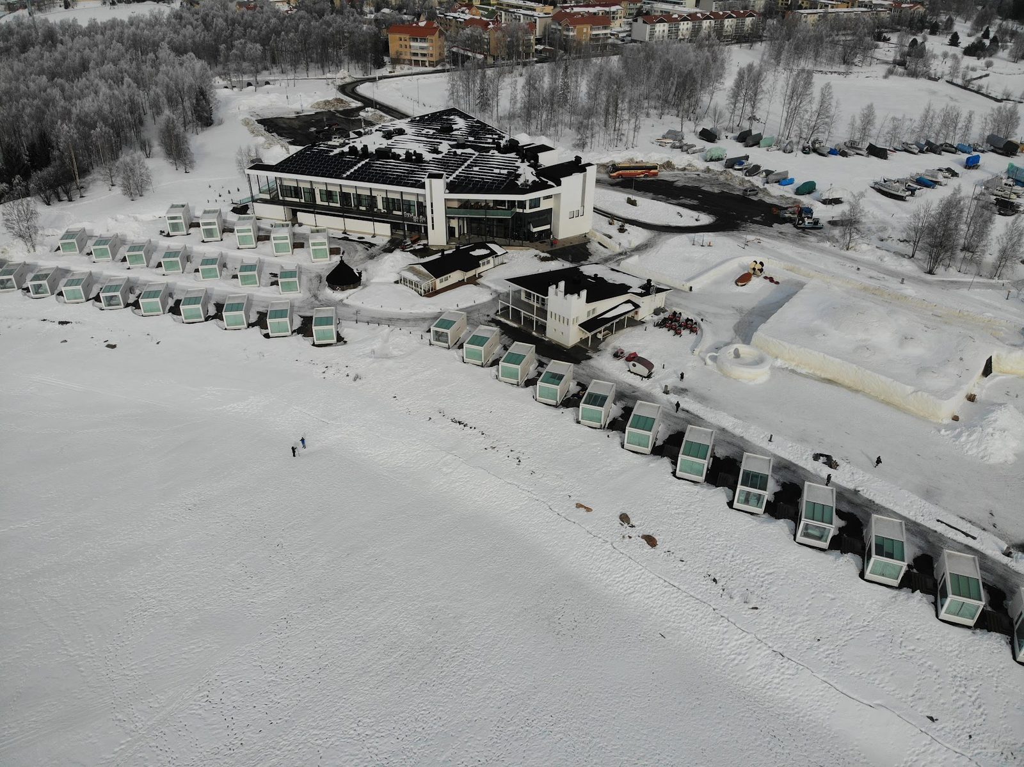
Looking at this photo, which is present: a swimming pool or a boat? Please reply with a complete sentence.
The one in the frame is a boat.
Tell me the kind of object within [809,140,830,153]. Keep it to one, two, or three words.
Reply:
boat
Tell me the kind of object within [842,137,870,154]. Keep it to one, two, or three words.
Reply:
boat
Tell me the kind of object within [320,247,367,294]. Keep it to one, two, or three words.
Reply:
shed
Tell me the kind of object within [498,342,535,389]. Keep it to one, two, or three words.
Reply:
building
